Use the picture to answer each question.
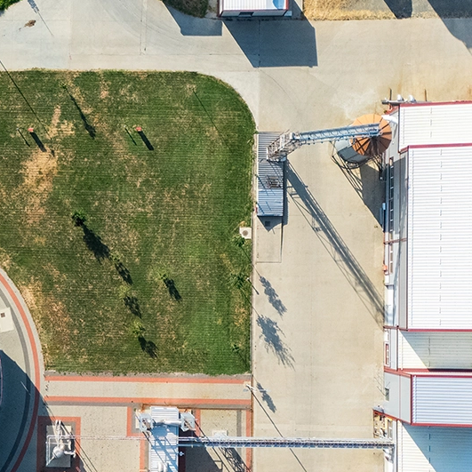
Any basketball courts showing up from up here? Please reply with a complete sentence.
No, the photo shows no basketball court.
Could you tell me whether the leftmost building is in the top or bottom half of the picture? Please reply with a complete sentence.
It is in the bottom half that the leftmost building appears.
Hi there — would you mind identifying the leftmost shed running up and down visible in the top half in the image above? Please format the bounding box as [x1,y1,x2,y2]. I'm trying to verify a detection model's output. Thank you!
[256,132,283,216]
